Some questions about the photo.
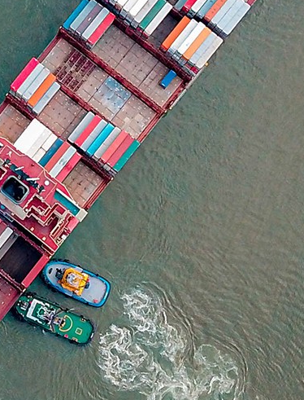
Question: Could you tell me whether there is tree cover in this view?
No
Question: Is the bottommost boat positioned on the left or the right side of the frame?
left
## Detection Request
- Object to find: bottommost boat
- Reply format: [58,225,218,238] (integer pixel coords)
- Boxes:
[14,299,95,344]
